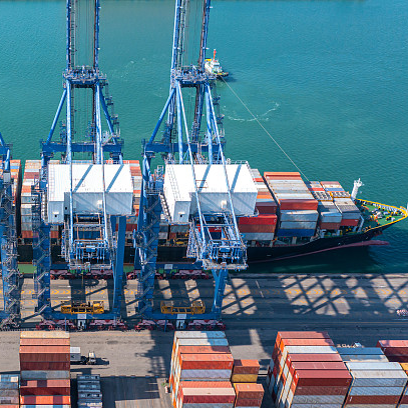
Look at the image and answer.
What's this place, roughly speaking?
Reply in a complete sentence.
This image shows a port.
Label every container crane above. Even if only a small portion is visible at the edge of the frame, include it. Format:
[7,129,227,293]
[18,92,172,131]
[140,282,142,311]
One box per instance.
[129,0,260,328]
[0,112,25,327]
[31,0,138,328]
